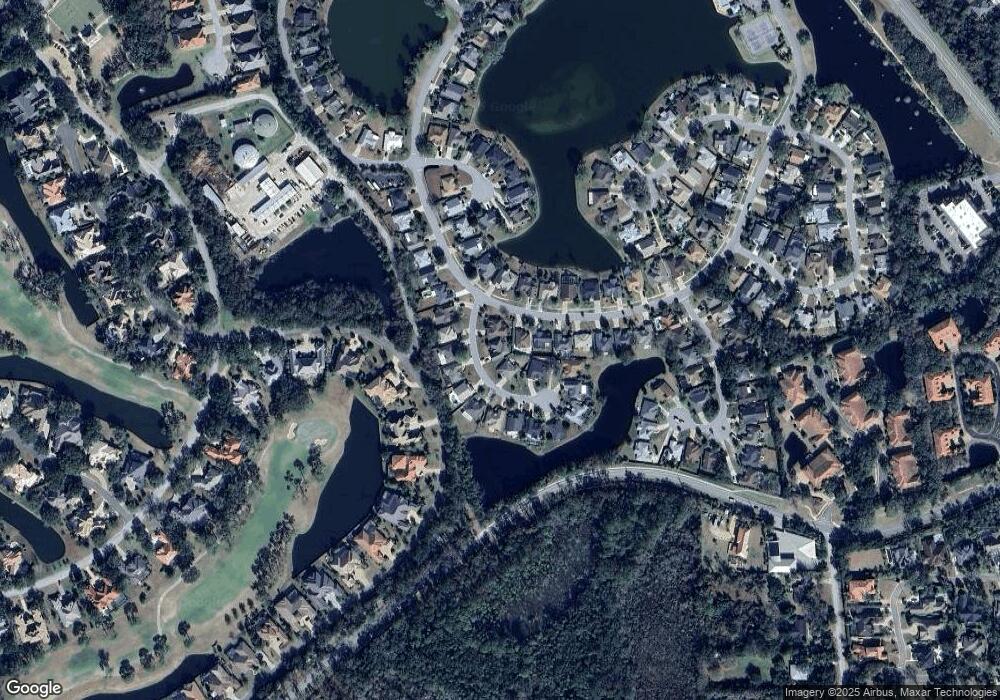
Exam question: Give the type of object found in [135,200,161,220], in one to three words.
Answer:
house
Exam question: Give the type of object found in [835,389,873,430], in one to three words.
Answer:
building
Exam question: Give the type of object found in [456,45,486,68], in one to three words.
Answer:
house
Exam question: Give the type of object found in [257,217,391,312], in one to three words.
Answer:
pond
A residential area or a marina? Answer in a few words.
residential area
